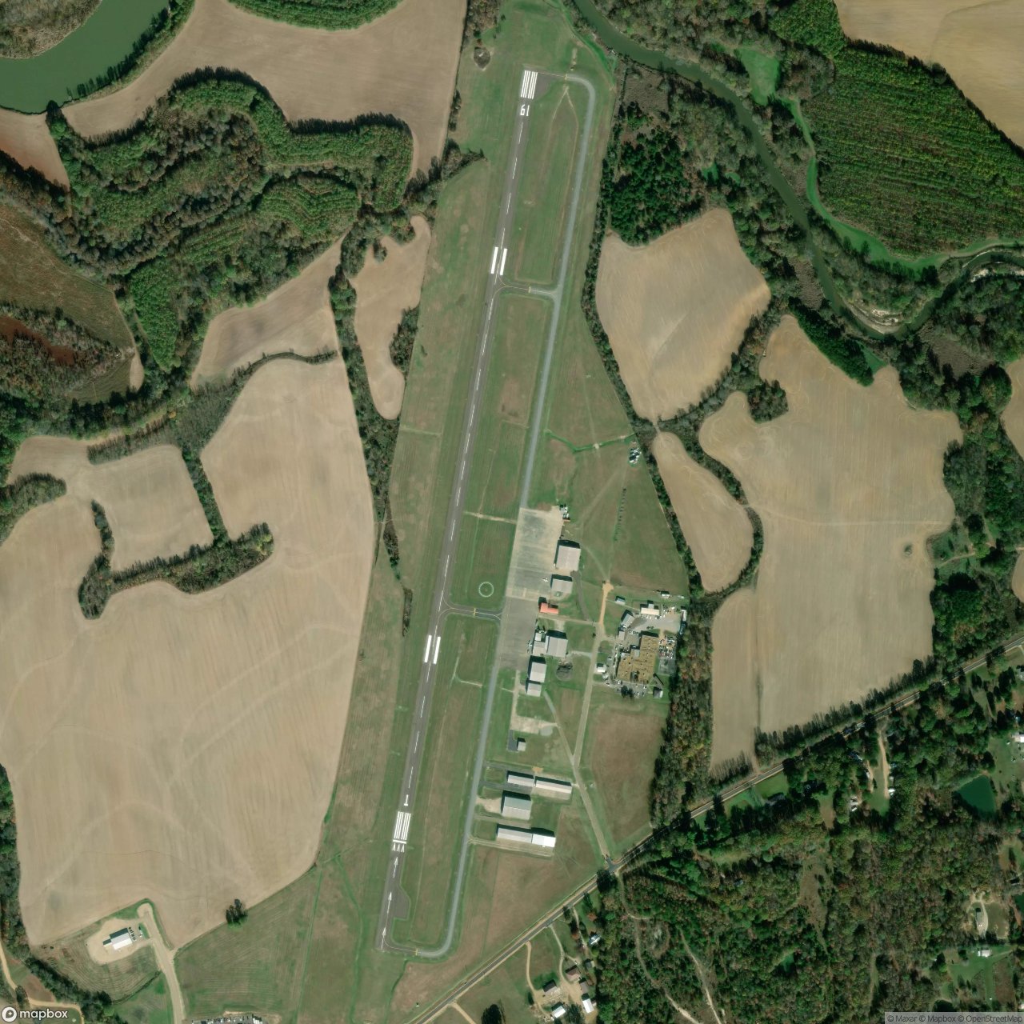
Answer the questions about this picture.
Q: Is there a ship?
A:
No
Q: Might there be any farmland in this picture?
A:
Yes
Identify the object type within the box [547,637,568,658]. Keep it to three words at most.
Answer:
hangar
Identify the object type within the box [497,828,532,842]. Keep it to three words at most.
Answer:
hangar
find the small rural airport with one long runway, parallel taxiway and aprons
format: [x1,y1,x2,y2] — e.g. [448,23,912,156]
[172,0,690,1024]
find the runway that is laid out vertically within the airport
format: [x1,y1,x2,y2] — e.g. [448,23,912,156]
[375,70,537,950]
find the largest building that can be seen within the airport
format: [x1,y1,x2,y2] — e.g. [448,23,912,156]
[617,635,659,683]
